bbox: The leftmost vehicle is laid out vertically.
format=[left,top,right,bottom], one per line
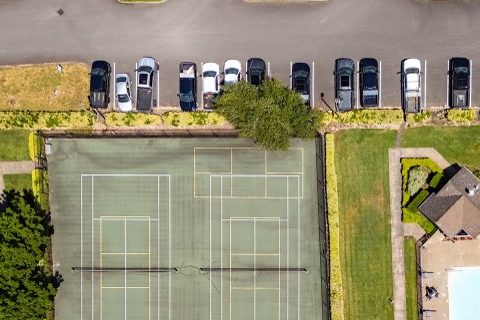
[87,61,111,110]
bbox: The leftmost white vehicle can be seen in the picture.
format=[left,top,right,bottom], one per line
[114,73,135,112]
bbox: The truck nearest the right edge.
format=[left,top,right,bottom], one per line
[450,59,471,110]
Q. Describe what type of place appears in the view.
sports ground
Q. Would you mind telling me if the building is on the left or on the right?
right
